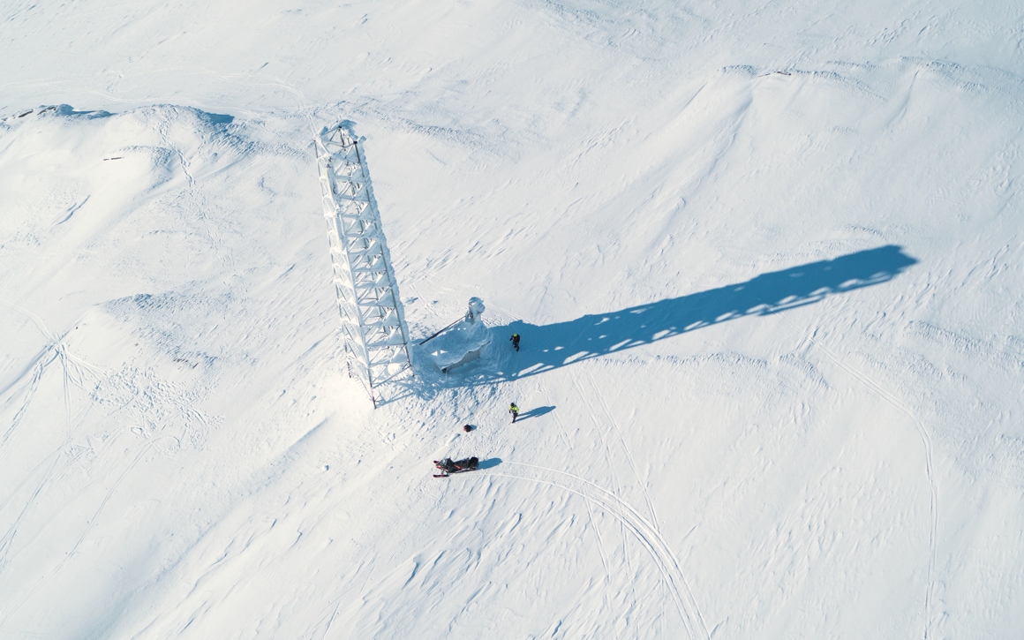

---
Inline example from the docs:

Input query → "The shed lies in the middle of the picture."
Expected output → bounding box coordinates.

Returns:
[420,319,495,377]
